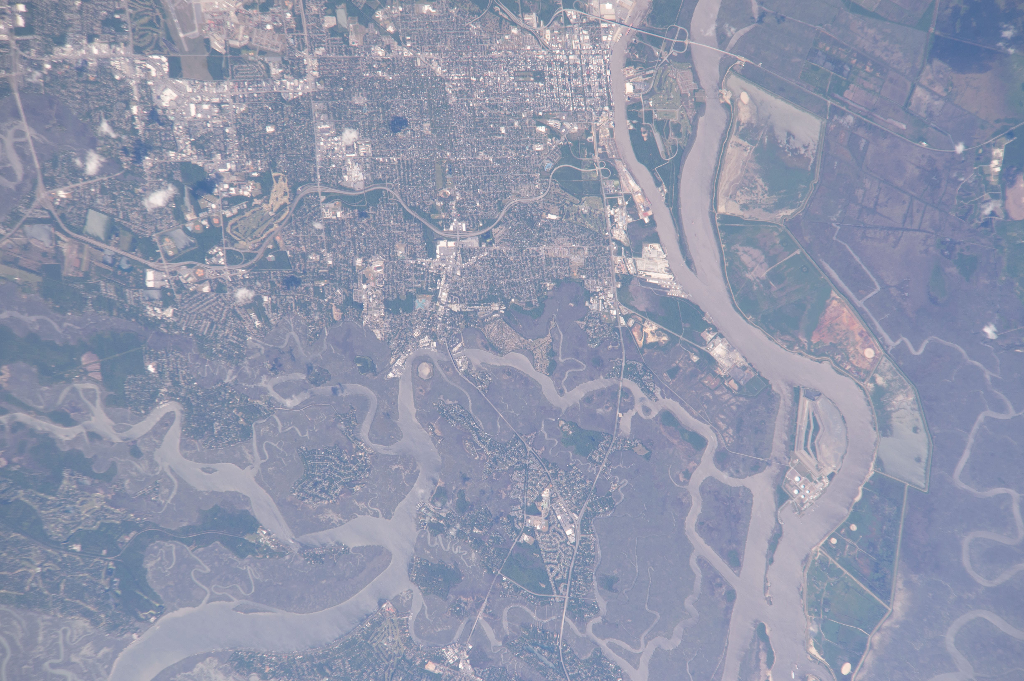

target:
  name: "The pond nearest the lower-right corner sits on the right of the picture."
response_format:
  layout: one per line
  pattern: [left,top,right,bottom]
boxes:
[877,410,928,488]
